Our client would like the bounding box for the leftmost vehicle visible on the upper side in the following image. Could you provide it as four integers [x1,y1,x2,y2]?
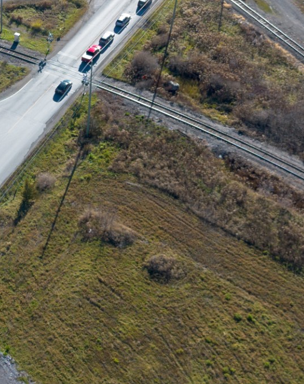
[53,81,74,98]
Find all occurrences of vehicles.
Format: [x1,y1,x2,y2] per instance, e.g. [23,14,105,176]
[98,32,115,46]
[80,44,102,62]
[53,81,74,98]
[115,14,131,28]
[137,0,153,11]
